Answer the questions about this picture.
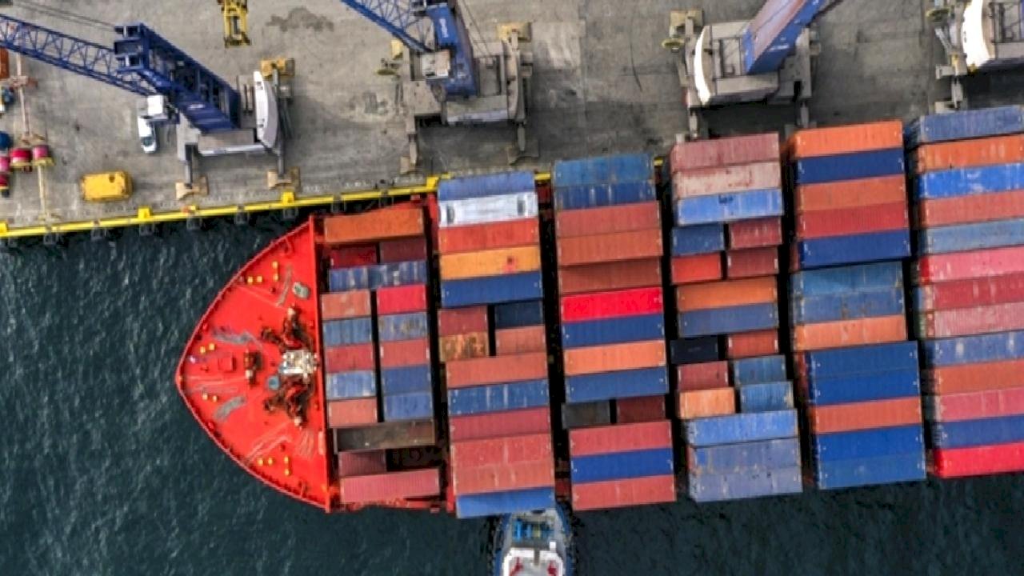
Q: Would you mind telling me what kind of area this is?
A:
port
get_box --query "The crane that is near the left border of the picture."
[0,0,298,196]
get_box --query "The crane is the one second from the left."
[341,0,536,172]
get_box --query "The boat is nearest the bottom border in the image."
[491,504,576,576]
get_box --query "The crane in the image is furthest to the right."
[926,0,1024,112]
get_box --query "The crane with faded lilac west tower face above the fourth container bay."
[662,0,858,144]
